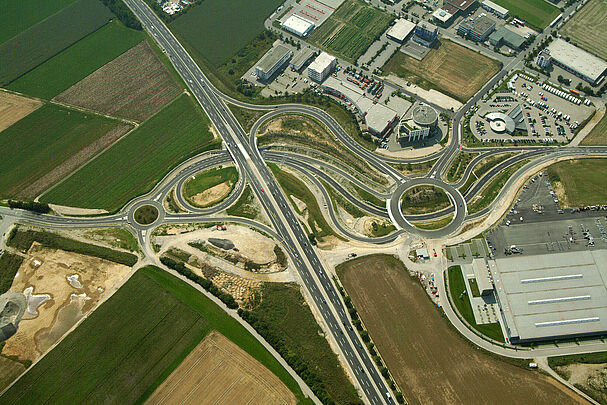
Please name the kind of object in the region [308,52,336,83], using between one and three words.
building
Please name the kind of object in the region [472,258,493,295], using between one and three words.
building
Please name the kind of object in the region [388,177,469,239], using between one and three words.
roundabout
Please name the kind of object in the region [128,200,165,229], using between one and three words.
roundabout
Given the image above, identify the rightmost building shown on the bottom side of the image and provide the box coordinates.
[493,249,607,342]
